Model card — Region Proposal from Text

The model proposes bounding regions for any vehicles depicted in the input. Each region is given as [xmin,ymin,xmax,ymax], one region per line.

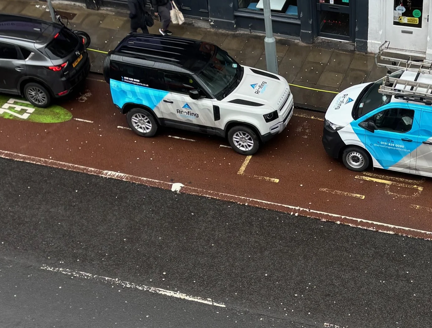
[326,58,432,172]
[102,25,298,154]
[0,11,96,108]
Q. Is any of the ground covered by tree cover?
No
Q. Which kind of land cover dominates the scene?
paved ground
